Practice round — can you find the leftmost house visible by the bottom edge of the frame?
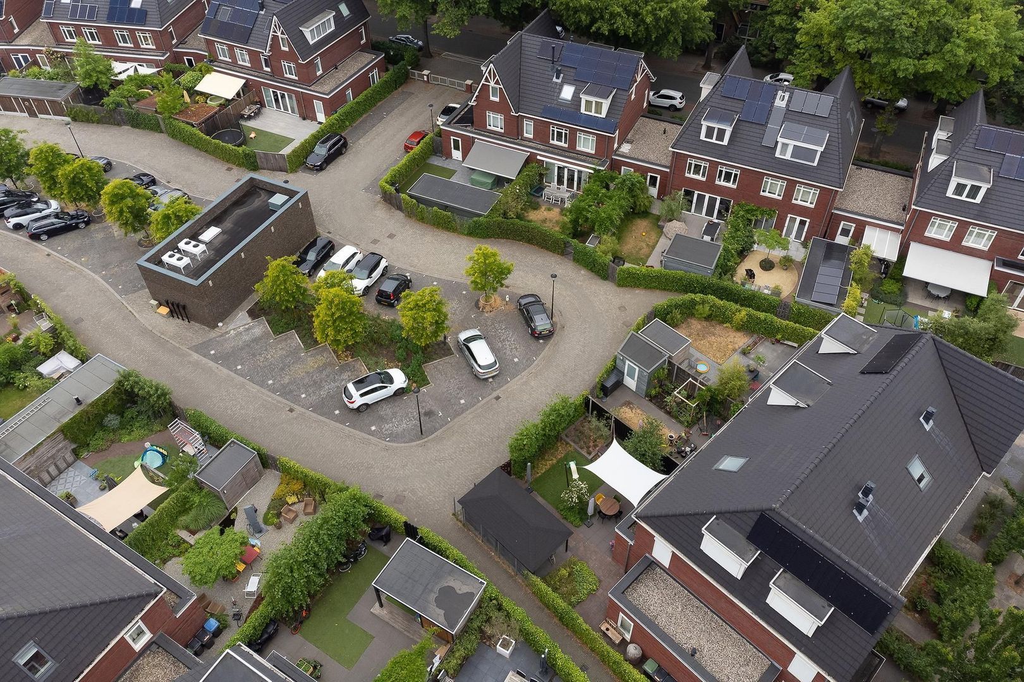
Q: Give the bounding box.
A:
[0,470,210,682]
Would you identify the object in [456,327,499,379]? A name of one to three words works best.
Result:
car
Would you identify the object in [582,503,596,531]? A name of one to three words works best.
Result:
umbrella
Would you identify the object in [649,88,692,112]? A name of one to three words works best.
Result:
car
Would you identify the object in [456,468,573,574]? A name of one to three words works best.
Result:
building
